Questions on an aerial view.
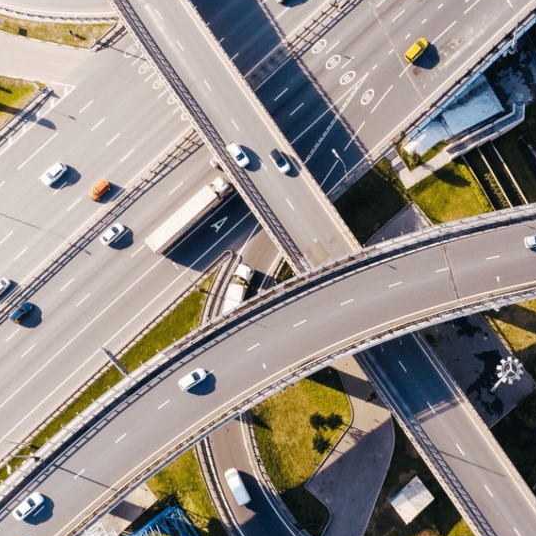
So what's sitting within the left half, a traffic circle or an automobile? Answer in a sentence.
Visible within the left half is an automobile.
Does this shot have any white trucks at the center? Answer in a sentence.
Yes, there is a white truck at the center.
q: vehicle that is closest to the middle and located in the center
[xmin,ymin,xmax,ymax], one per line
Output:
[215,263,251,311]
